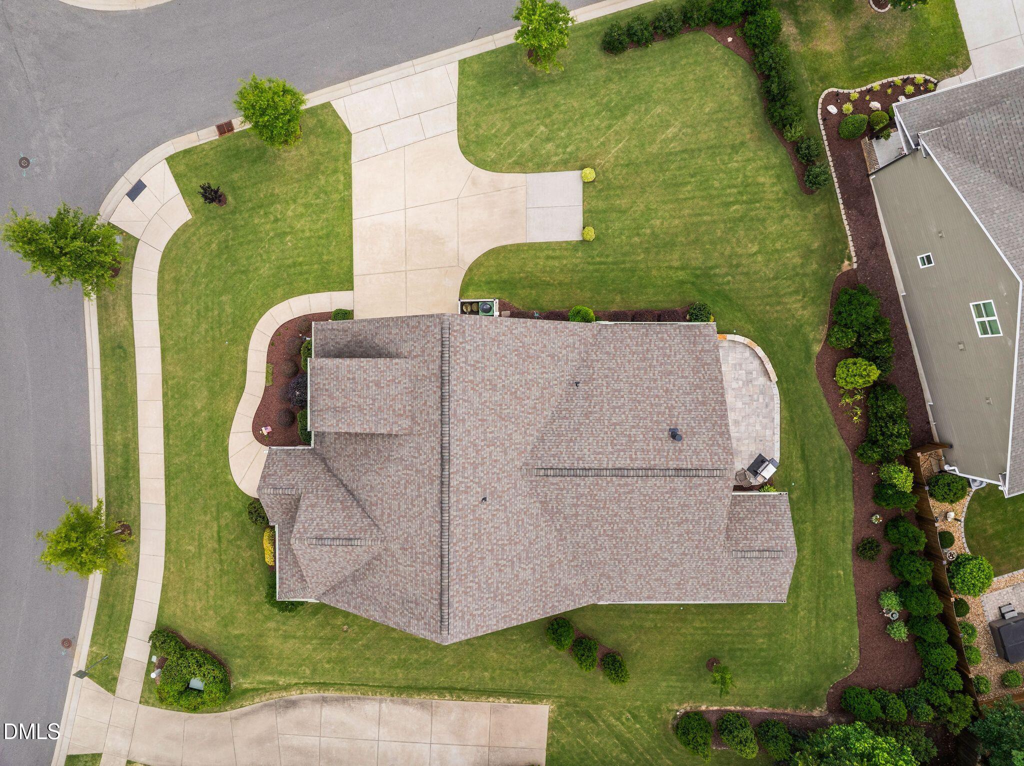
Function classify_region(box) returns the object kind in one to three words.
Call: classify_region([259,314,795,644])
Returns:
house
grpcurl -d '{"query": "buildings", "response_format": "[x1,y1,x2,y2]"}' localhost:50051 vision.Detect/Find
[860,67,1024,498]
[259,314,795,644]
